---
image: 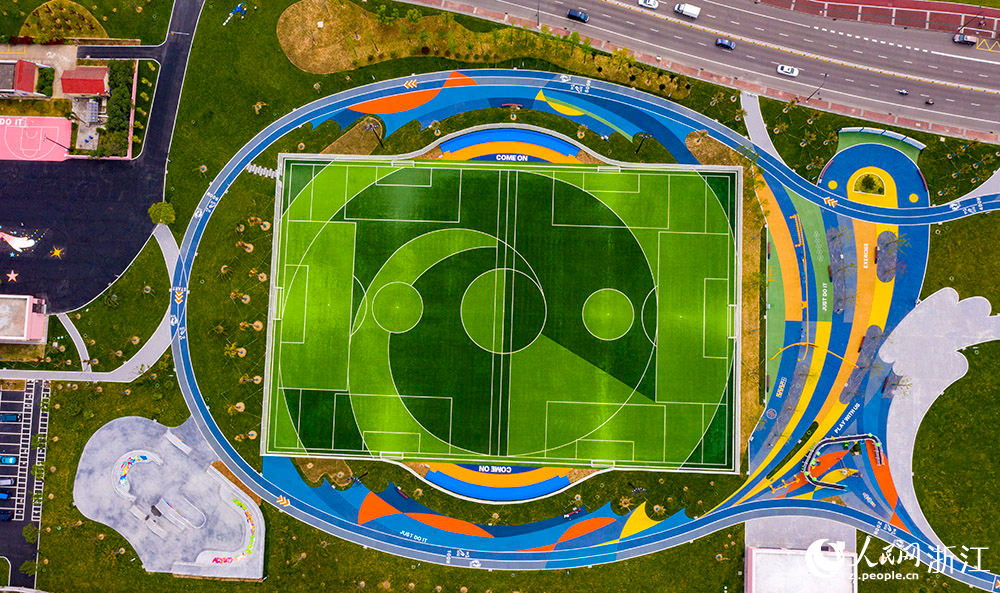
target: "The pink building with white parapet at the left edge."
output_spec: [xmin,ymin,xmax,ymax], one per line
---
[0,298,49,345]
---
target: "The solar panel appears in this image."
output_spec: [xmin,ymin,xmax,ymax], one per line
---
[87,102,104,125]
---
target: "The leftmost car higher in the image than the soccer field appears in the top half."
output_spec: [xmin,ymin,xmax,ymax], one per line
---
[567,6,589,21]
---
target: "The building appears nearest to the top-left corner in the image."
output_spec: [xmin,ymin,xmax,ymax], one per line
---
[0,61,46,97]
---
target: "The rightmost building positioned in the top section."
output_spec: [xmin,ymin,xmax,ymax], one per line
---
[61,66,113,97]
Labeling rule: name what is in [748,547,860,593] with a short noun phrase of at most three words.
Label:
building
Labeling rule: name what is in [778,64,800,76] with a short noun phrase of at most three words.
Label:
vehicle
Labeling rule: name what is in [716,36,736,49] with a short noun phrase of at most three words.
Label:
vehicle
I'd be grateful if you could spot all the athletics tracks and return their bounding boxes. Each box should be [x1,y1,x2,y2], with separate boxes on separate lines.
[169,67,1000,593]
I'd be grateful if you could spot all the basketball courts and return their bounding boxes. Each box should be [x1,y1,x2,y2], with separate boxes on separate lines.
[0,115,71,161]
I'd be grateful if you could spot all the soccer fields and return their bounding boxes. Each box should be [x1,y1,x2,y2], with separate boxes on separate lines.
[267,128,737,472]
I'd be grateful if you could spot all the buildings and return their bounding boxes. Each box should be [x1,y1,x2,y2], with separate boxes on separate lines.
[748,547,860,593]
[61,66,113,97]
[0,298,49,345]
[0,61,46,97]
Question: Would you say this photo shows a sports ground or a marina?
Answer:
sports ground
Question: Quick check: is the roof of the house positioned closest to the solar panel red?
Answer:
Yes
